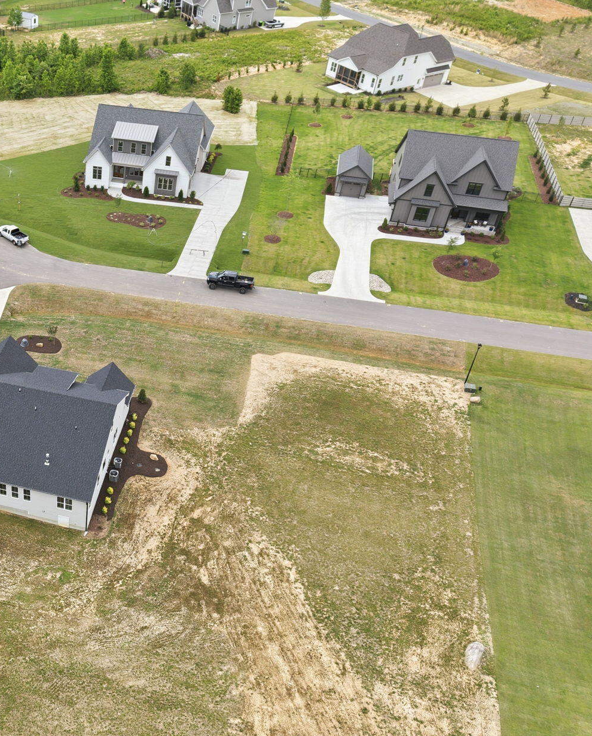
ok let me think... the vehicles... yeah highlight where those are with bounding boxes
[205,270,258,296]
[0,225,32,247]
[264,18,286,28]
